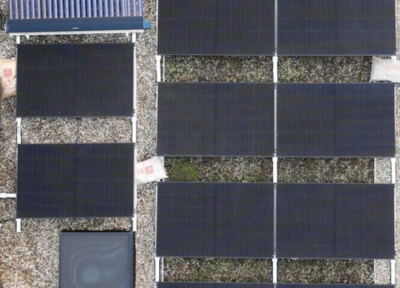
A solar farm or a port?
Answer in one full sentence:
The area seen from above is a solar farm.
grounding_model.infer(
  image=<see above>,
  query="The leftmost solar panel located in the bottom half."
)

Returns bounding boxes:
[17,143,134,217]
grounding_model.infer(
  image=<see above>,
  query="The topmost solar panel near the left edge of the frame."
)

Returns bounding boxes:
[16,43,133,116]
